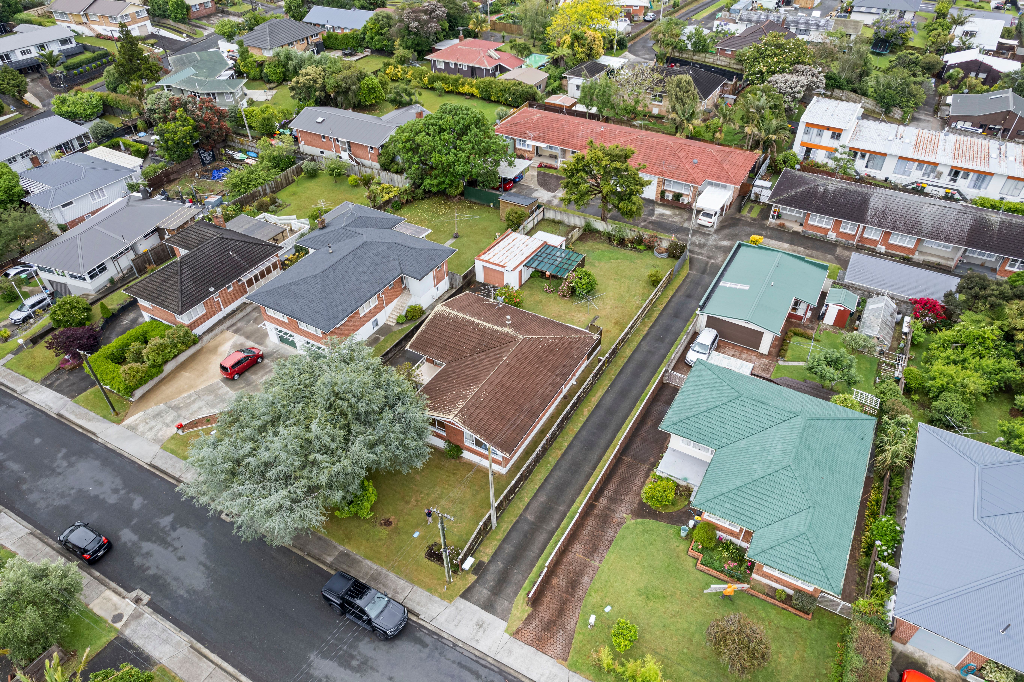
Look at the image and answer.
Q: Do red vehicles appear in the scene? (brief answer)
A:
Yes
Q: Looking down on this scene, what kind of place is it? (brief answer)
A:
residential area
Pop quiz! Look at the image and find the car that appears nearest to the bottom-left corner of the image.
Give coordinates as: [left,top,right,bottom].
[52,517,110,561]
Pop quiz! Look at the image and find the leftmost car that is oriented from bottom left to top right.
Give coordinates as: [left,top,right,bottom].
[3,289,53,323]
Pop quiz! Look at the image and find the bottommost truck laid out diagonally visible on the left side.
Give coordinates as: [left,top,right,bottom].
[319,571,409,641]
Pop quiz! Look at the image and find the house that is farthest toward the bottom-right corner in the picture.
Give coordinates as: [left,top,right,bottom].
[890,422,1024,682]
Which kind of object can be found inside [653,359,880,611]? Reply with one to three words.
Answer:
house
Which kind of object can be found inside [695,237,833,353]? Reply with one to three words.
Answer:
house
